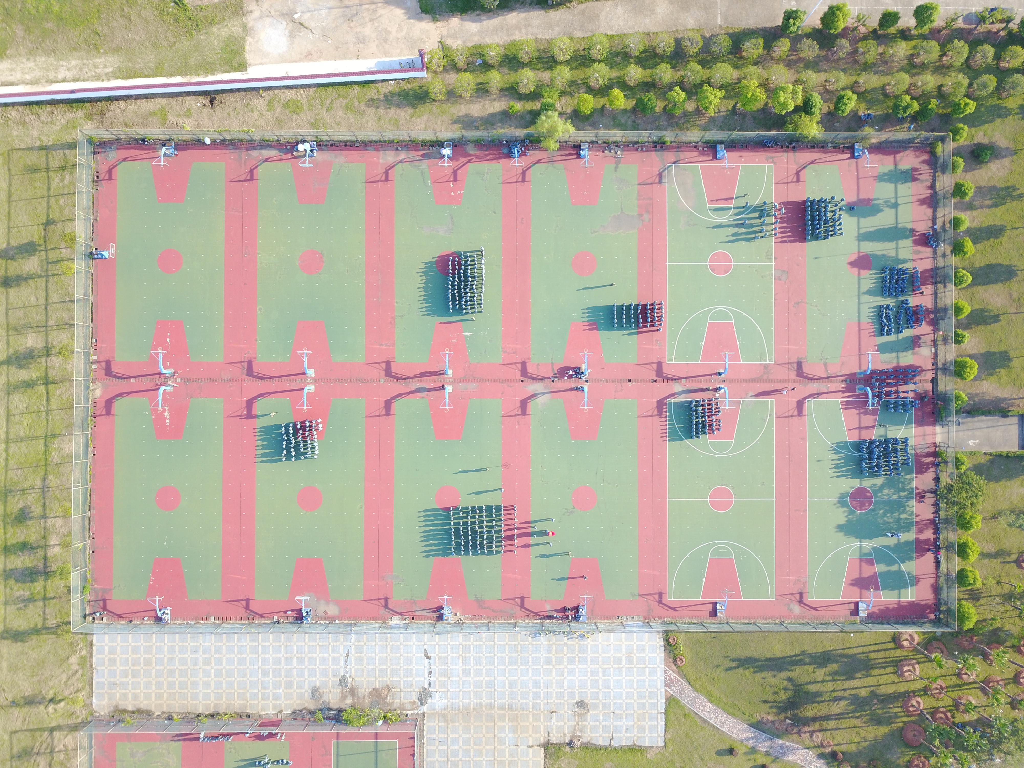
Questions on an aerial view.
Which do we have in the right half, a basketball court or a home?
basketball court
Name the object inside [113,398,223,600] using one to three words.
basketball court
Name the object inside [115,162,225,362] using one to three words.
basketball court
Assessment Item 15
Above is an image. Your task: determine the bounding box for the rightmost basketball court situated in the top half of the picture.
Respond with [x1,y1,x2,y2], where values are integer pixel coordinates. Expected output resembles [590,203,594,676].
[806,165,913,363]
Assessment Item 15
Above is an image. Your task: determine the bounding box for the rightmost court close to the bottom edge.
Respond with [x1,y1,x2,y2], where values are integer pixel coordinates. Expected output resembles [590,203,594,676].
[332,739,398,768]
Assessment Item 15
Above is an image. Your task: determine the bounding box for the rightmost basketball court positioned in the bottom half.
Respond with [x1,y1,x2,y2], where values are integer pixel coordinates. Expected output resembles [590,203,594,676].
[807,399,915,600]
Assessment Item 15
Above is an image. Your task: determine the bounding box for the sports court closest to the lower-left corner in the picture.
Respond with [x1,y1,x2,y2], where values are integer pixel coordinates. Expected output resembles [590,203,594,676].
[116,742,181,768]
